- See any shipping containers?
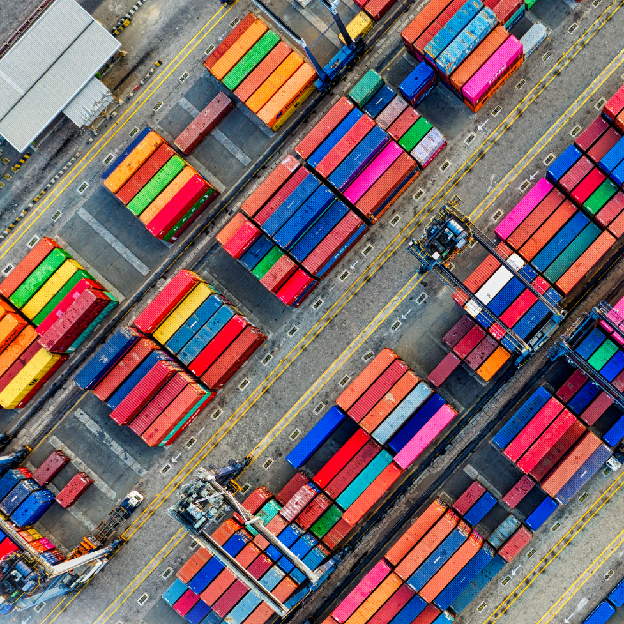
Yes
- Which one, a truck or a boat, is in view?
truck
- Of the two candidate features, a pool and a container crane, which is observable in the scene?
container crane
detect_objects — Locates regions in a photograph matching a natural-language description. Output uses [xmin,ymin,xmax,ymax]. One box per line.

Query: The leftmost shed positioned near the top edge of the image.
[0,0,132,157]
